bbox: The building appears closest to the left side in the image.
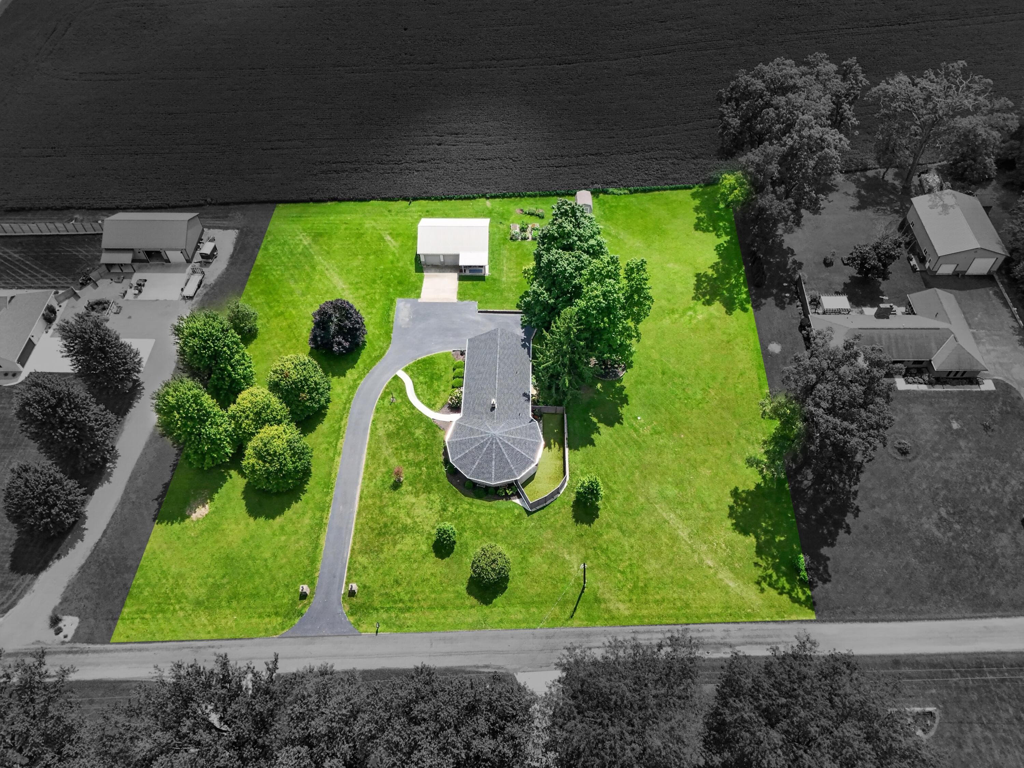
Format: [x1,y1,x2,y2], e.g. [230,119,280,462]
[0,290,58,371]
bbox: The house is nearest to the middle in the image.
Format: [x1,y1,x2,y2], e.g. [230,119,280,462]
[445,328,545,487]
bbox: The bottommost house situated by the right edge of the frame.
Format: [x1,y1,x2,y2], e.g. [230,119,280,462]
[808,288,988,378]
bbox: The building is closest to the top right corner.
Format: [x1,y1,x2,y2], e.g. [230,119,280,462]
[902,188,1009,275]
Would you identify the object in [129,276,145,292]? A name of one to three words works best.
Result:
work vehicle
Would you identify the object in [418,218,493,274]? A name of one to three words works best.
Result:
barn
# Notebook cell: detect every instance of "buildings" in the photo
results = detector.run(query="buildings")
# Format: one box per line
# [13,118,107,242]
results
[418,218,493,274]
[0,290,58,371]
[808,288,988,378]
[445,328,545,487]
[100,213,205,272]
[575,190,592,216]
[902,188,1009,275]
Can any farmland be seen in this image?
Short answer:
Yes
